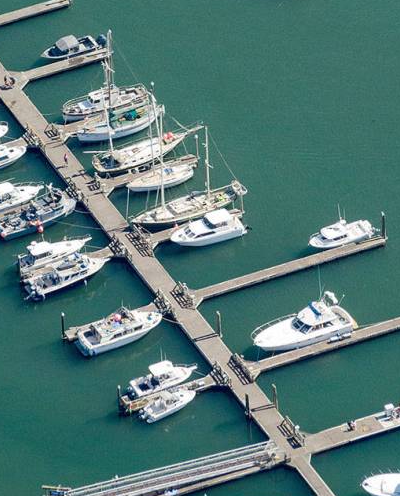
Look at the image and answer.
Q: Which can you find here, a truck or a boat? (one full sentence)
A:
Visible in the photo is a boat.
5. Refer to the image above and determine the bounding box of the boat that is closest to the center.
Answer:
[172,210,254,246]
